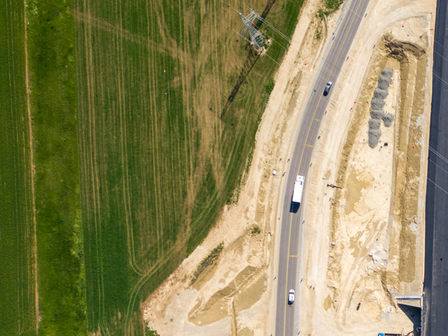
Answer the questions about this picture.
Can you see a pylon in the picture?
Yes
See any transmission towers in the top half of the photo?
Yes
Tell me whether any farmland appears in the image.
Yes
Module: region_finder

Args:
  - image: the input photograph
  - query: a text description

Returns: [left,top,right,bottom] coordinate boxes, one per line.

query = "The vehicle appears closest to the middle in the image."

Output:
[289,174,303,204]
